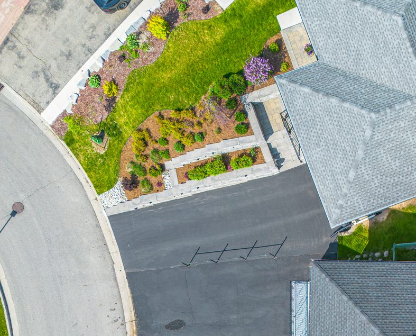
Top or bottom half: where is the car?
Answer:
top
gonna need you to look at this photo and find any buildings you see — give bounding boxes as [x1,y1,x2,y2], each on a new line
[274,0,416,231]
[307,258,416,336]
